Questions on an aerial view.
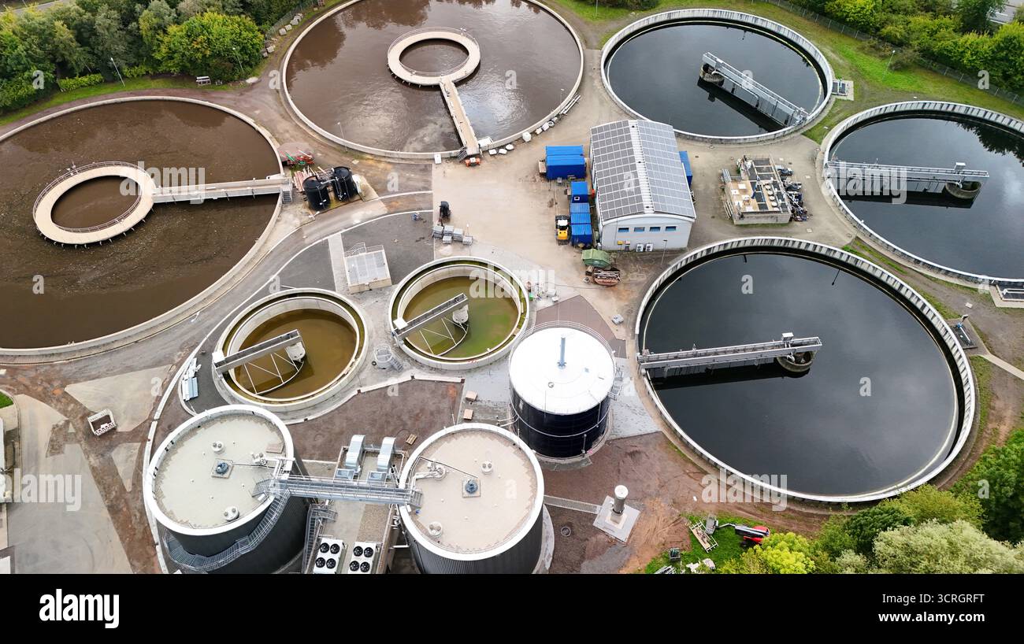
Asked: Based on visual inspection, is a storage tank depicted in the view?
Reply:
Yes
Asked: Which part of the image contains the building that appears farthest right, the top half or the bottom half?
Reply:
top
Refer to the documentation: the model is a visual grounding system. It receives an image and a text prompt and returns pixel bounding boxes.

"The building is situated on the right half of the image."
[587,119,697,252]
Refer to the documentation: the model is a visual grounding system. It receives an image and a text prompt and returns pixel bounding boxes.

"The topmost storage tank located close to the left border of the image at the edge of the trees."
[0,97,294,366]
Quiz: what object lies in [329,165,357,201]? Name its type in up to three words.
storage tank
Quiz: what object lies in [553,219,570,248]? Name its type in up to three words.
work vehicle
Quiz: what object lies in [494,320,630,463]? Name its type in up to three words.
storage tank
